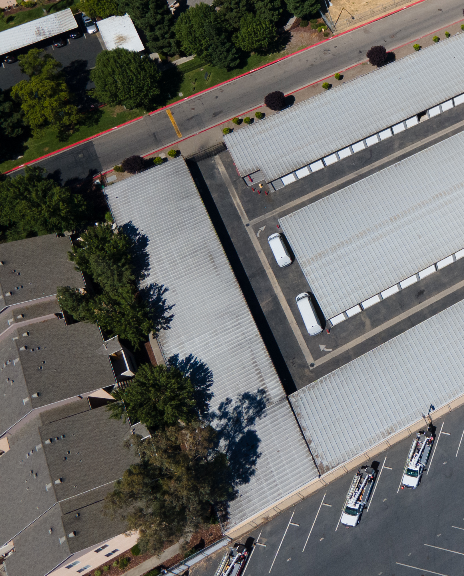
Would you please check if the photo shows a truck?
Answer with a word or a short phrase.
Yes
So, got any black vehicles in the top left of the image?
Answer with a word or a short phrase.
Yes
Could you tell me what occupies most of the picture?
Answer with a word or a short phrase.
buildings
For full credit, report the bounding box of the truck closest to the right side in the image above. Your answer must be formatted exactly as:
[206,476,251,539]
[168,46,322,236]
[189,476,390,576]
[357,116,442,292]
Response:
[400,428,439,498]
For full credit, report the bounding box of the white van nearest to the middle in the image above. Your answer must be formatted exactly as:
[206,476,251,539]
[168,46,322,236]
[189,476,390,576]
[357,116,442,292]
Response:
[267,232,296,275]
